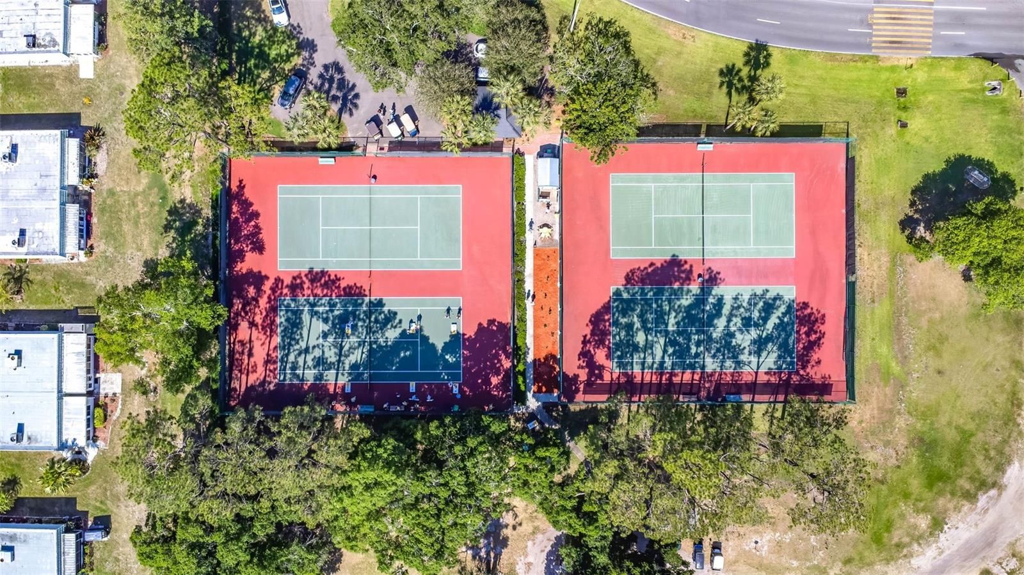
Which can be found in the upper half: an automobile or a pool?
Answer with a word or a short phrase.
automobile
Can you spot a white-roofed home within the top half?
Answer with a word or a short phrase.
Yes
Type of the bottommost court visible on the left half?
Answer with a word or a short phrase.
tennis court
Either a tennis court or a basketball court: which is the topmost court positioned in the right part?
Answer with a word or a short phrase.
tennis court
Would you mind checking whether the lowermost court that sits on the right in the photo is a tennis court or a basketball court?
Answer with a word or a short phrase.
tennis court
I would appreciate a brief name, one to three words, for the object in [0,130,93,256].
house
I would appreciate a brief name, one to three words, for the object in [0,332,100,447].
house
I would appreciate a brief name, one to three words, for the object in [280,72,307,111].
car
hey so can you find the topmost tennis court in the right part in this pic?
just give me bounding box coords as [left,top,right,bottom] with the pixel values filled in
[562,142,847,272]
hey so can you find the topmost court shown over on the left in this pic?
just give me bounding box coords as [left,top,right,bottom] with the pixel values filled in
[229,155,513,283]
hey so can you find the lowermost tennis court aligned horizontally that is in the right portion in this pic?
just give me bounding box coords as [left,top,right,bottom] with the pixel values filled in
[562,272,847,403]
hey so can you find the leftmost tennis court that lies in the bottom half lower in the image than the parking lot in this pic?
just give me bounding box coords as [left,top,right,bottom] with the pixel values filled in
[229,283,513,412]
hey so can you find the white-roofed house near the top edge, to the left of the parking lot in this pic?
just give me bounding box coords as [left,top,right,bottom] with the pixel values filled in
[0,0,106,60]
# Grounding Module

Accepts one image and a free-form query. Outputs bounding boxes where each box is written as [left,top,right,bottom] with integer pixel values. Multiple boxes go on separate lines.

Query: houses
[0,130,93,256]
[0,332,100,447]
[0,0,106,60]
[0,522,90,575]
